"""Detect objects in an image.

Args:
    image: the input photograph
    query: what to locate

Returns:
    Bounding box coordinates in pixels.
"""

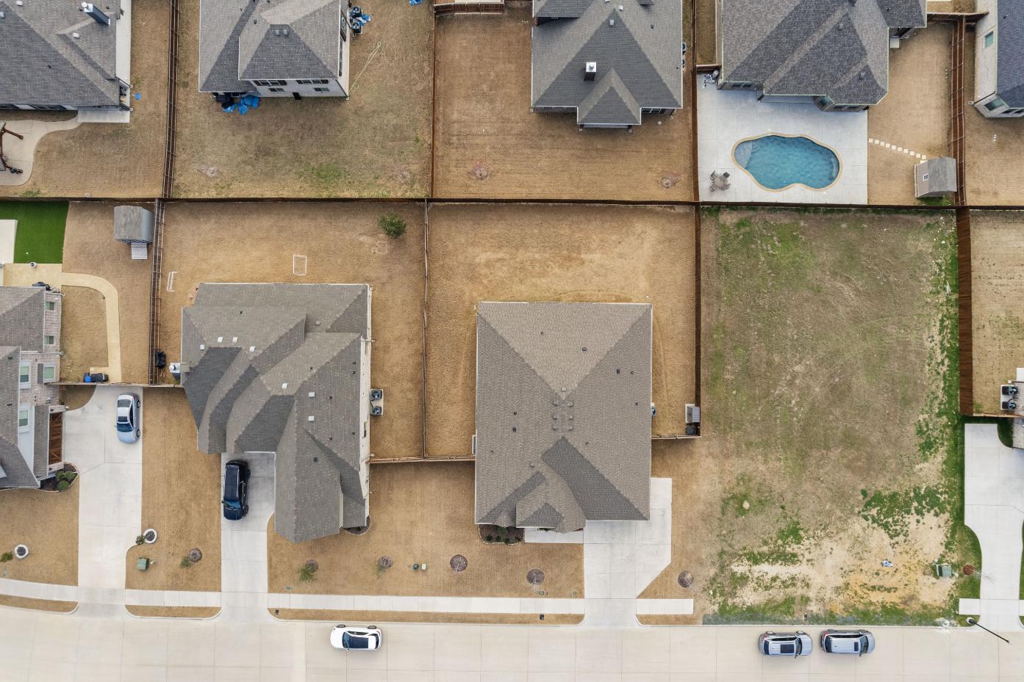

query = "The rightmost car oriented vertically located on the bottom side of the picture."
[222,460,250,519]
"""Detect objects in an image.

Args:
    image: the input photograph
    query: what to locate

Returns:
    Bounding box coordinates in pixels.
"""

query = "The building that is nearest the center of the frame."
[475,301,653,533]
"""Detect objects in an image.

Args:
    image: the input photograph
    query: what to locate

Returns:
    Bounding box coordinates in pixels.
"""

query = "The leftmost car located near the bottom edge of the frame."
[332,625,383,650]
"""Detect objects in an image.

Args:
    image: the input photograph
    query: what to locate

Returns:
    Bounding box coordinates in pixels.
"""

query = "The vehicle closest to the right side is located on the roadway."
[819,629,873,657]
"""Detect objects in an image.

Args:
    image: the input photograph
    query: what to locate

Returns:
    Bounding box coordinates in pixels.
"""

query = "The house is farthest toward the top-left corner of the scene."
[0,0,132,111]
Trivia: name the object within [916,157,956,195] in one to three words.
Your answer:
shed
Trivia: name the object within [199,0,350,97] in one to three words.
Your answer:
house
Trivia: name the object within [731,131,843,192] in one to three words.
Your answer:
swimming pool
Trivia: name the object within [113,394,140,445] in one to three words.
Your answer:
car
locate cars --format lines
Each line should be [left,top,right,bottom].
[819,629,873,657]
[222,460,250,519]
[113,394,140,445]
[332,625,383,650]
[759,631,811,658]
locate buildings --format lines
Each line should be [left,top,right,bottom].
[114,205,151,259]
[717,0,927,111]
[916,157,956,195]
[0,286,67,488]
[974,0,1024,117]
[530,0,683,132]
[0,0,132,111]
[168,282,374,543]
[475,301,653,533]
[199,0,350,97]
